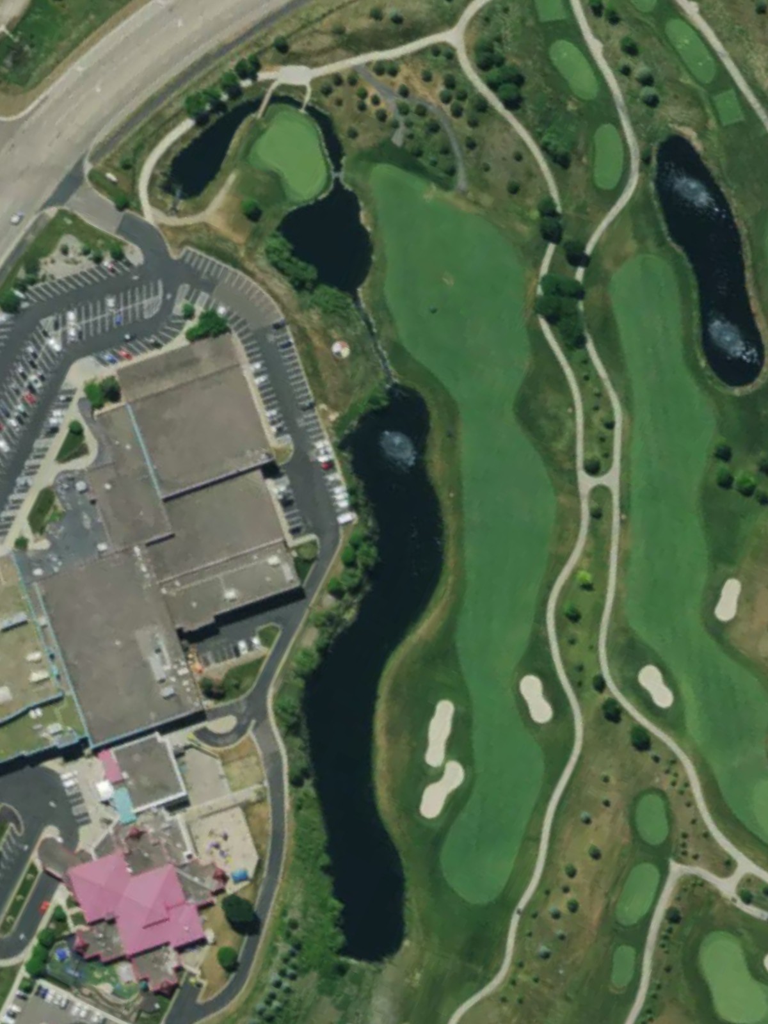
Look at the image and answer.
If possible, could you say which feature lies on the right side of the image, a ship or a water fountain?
water fountain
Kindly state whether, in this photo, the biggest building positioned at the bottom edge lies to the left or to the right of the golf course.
left of it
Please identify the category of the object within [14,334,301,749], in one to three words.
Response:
building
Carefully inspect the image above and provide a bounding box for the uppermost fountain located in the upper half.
[683,179,719,217]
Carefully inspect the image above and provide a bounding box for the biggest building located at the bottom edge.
[37,812,226,994]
